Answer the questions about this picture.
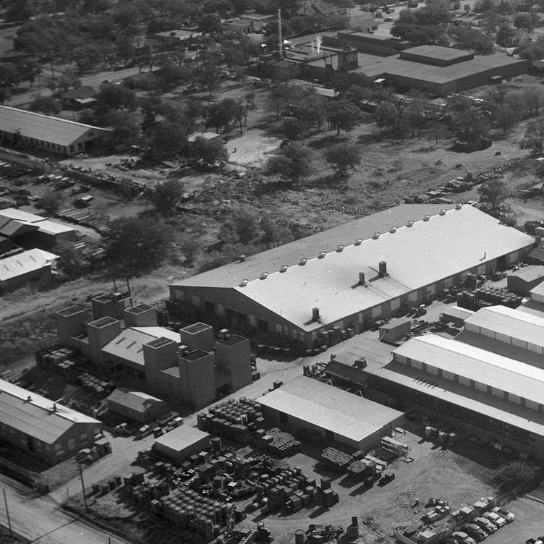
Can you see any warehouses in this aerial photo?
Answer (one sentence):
Yes, there's a warehouse here.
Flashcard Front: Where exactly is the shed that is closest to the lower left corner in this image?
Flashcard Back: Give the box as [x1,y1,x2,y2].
[0,376,103,464]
